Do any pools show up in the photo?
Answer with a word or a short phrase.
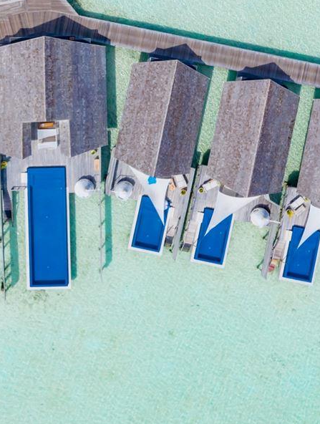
Yes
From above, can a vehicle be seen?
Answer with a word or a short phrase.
No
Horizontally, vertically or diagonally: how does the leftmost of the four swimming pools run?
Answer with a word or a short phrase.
vertically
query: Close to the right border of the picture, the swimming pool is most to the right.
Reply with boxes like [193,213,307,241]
[275,225,320,285]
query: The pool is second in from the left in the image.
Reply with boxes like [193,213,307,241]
[130,195,178,255]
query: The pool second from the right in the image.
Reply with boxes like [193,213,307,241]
[189,208,234,268]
